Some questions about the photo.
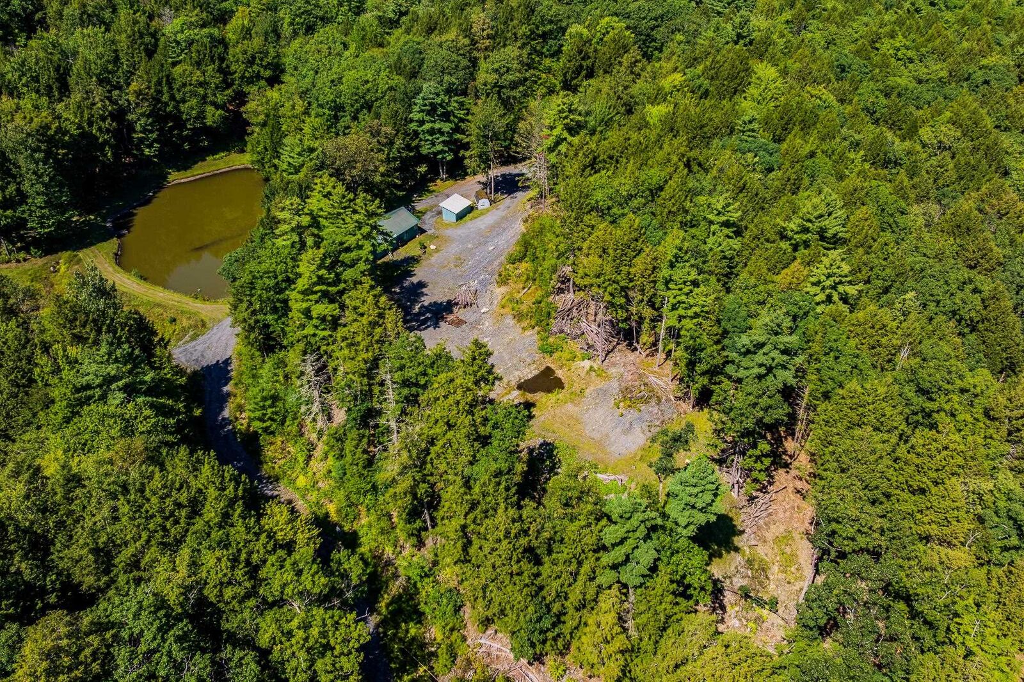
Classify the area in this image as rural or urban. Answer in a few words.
rural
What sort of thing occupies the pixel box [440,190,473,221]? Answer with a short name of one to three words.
shed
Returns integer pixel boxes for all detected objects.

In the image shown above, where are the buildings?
[474,189,490,209]
[440,190,473,221]
[372,201,422,253]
